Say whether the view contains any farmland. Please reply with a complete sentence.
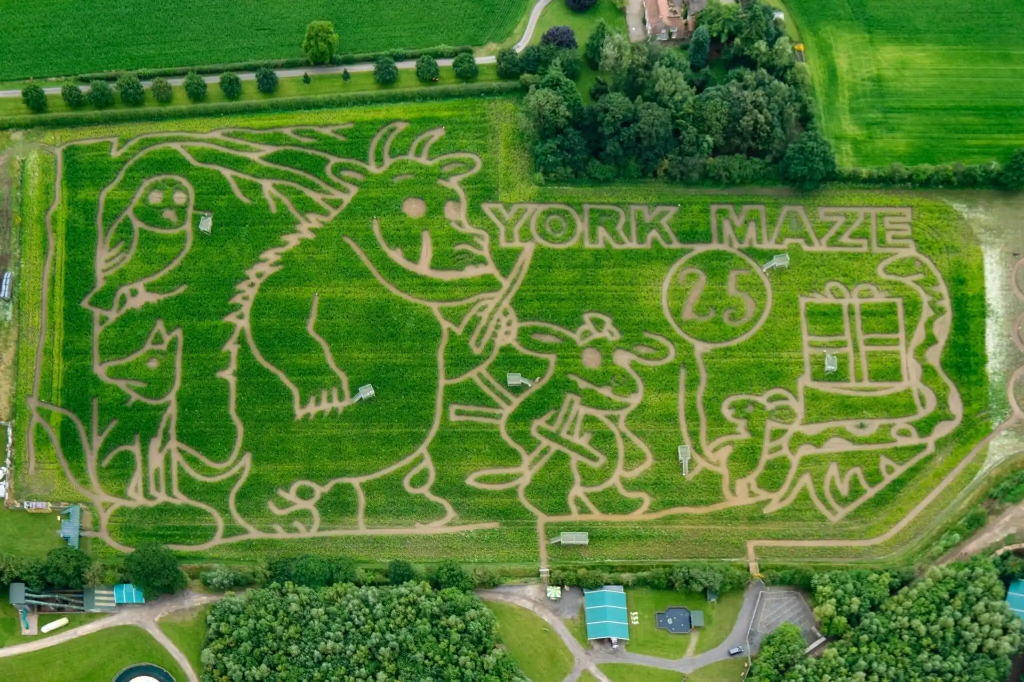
Yes, the picture does contain farmland.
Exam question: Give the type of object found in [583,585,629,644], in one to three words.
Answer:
barn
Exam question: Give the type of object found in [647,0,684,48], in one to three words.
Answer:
house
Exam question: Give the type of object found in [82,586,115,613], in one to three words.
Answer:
building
